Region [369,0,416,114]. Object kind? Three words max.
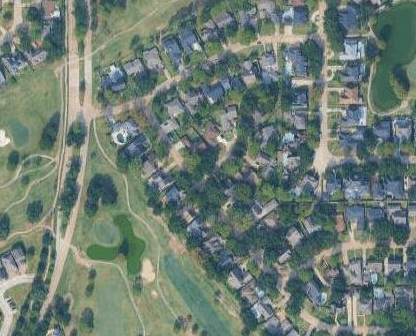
pond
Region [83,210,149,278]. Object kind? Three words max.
pond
